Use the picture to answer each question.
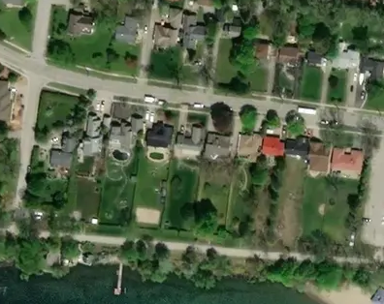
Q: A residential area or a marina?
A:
residential area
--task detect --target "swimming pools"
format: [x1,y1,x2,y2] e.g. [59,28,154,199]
[148,150,166,162]
[111,149,131,160]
